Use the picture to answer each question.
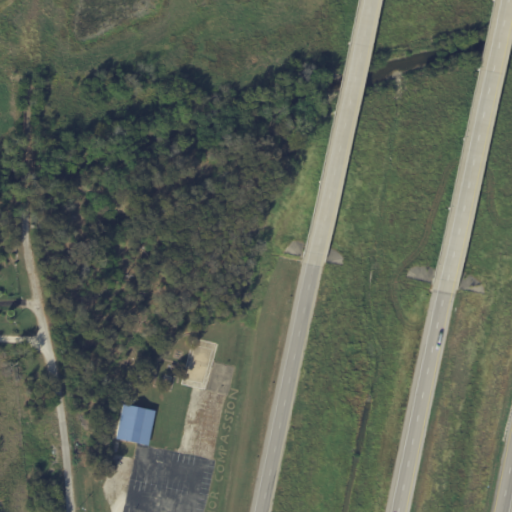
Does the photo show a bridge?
Yes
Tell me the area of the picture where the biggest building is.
bottom left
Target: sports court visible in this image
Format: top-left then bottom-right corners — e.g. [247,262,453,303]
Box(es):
[182,339,216,390]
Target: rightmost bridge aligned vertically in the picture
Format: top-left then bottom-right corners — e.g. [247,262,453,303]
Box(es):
[408,0,512,295]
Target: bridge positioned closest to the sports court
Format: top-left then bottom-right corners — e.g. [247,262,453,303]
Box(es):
[286,0,384,268]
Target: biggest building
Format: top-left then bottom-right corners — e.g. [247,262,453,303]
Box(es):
[114,405,156,446]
